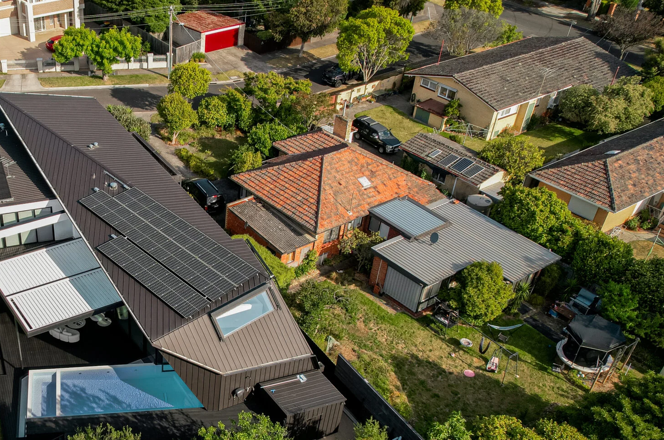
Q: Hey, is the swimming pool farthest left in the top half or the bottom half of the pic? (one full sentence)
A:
The swimming pool farthest left sits in the bottom half of the picture.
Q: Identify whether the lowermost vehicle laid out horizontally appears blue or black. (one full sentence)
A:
The color of the lowermost vehicle laid out horizontally is black.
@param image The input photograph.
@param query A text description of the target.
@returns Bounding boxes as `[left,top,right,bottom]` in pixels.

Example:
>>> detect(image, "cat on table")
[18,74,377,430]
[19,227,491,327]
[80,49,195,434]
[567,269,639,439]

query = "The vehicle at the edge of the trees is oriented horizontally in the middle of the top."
[320,62,367,86]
